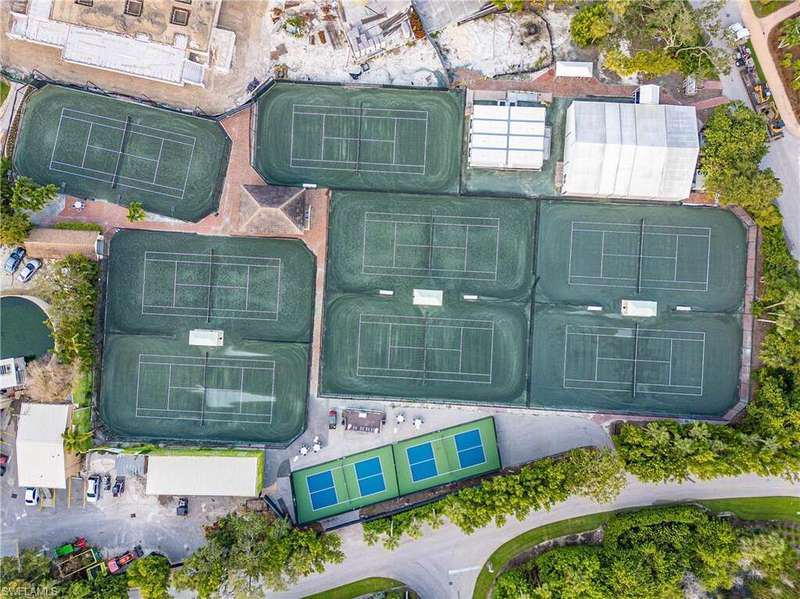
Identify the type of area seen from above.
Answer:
sports ground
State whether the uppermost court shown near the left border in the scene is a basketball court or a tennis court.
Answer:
tennis court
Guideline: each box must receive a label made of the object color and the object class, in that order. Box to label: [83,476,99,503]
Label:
white vehicle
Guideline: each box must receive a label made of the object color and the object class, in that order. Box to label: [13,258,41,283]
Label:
white car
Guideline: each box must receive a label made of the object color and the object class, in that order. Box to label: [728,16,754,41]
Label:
white car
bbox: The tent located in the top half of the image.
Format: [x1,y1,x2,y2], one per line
[559,102,700,205]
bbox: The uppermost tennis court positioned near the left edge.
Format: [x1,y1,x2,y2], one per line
[14,84,231,222]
